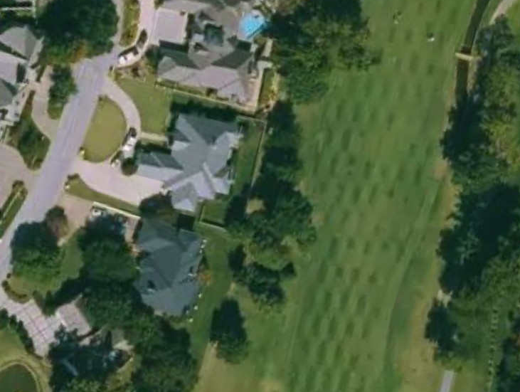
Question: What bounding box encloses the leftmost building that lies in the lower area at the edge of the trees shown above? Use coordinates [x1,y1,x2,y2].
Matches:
[57,302,92,341]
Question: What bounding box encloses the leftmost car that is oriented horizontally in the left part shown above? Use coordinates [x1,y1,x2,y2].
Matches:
[89,207,109,219]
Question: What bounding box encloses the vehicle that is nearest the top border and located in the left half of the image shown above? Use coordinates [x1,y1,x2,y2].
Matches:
[136,27,149,47]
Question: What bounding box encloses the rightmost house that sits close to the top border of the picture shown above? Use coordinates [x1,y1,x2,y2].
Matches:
[153,0,254,101]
